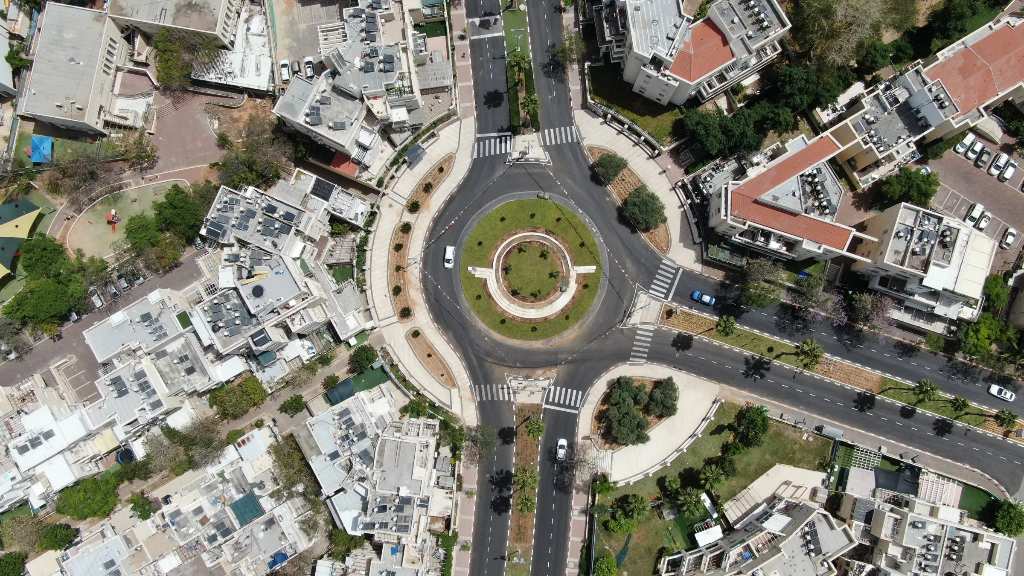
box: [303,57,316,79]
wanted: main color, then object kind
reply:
white vehicle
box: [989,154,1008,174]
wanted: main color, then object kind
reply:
white car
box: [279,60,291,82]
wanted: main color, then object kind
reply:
white vehicle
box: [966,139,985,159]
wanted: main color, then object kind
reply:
white car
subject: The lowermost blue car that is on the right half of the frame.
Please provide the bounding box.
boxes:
[690,291,715,305]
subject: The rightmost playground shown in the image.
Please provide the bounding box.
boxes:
[68,181,192,261]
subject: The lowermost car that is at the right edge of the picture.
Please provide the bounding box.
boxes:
[988,385,1015,401]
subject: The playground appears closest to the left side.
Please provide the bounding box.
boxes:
[0,184,58,308]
